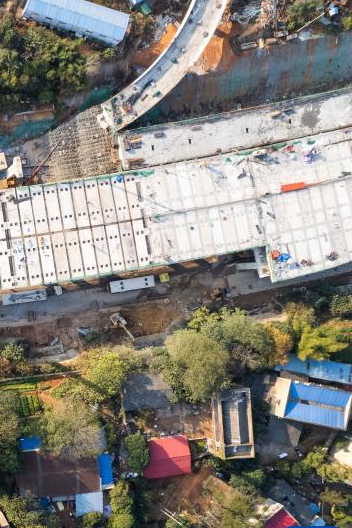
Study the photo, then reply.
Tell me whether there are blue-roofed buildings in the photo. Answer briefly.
Yes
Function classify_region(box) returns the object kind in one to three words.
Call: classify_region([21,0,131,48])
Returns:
shed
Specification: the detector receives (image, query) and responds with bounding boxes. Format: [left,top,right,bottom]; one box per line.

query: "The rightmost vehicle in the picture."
[155,271,174,283]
